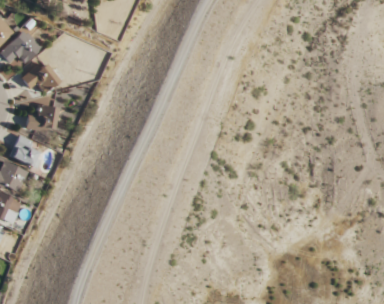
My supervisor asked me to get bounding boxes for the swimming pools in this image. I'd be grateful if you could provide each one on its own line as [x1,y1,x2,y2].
[19,208,32,221]
[43,149,56,173]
